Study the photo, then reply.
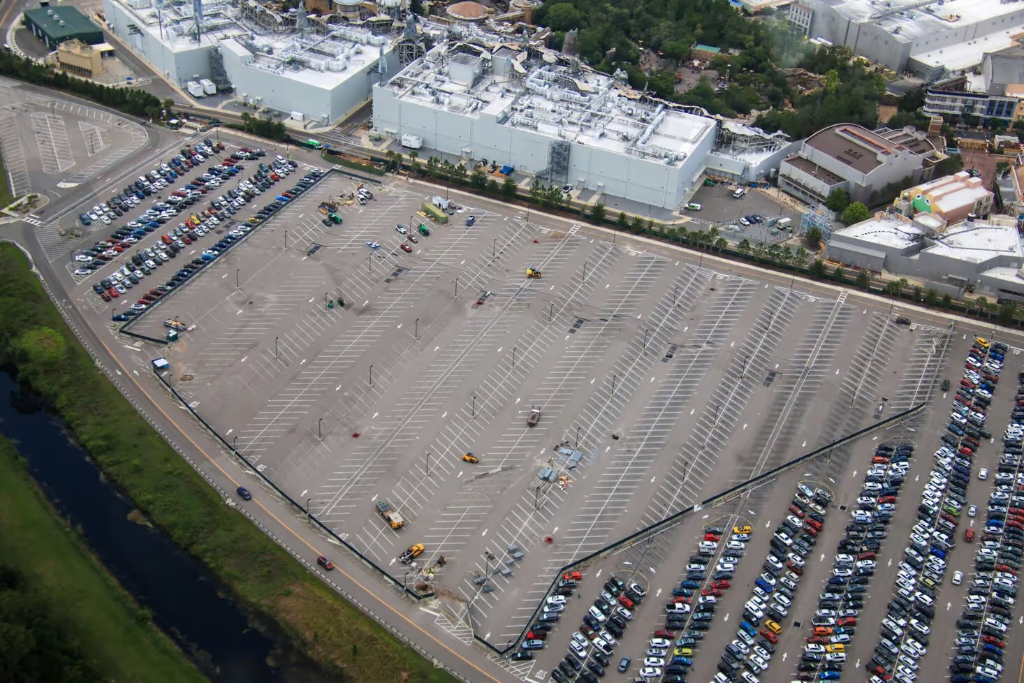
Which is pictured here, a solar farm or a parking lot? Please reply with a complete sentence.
What you see here is a parking lot.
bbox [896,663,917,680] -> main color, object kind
white car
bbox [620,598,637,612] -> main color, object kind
red car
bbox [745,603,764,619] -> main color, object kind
white car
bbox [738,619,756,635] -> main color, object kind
blue car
